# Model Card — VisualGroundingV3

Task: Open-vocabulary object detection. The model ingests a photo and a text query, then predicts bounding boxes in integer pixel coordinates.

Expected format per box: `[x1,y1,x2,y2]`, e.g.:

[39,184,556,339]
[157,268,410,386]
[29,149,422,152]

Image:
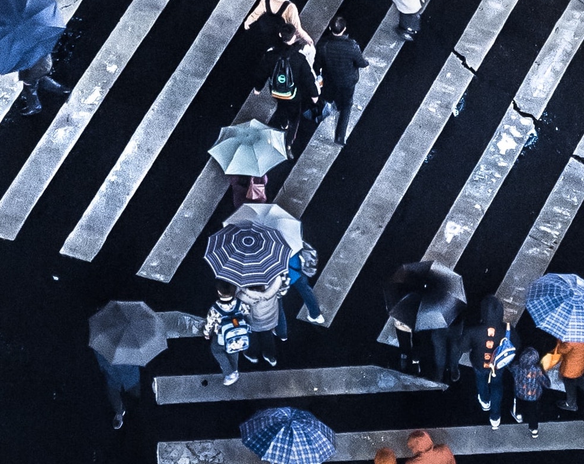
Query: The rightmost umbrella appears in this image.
[523,272,584,346]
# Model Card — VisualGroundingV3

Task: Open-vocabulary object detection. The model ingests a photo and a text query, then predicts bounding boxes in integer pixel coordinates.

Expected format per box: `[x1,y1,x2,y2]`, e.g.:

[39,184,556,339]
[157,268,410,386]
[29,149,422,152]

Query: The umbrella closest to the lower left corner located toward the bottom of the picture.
[89,300,167,367]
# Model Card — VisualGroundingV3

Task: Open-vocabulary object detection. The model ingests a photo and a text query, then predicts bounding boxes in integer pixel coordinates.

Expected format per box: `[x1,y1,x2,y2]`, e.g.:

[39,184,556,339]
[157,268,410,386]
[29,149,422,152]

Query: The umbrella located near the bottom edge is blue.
[238,407,337,464]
